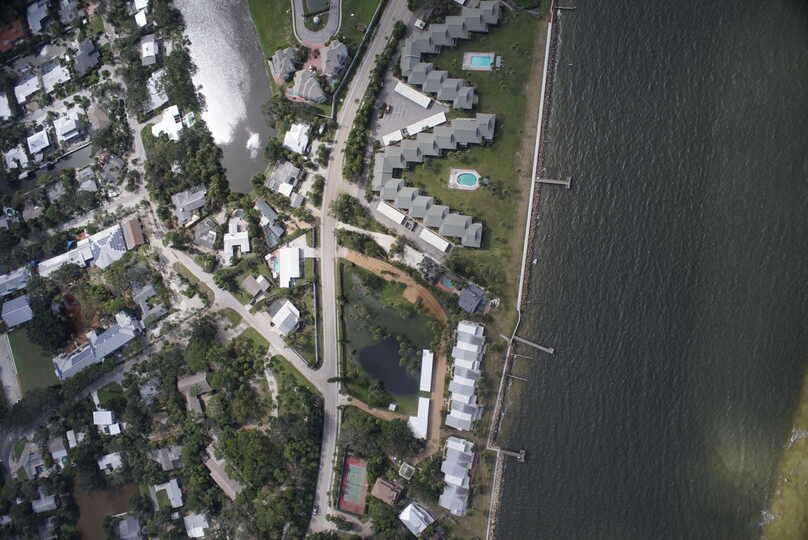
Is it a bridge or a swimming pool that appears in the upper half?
swimming pool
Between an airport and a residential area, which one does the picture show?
residential area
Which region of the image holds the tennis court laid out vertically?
bottom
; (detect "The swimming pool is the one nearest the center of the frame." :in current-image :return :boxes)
[436,275,457,294]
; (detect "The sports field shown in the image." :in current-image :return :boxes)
[10,331,58,396]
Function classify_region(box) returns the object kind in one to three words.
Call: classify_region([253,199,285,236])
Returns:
house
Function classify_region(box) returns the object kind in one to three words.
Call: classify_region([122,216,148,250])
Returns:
building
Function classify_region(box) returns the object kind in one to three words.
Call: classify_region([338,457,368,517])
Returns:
tennis court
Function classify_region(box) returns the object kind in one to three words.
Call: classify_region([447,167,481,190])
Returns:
swimming pool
